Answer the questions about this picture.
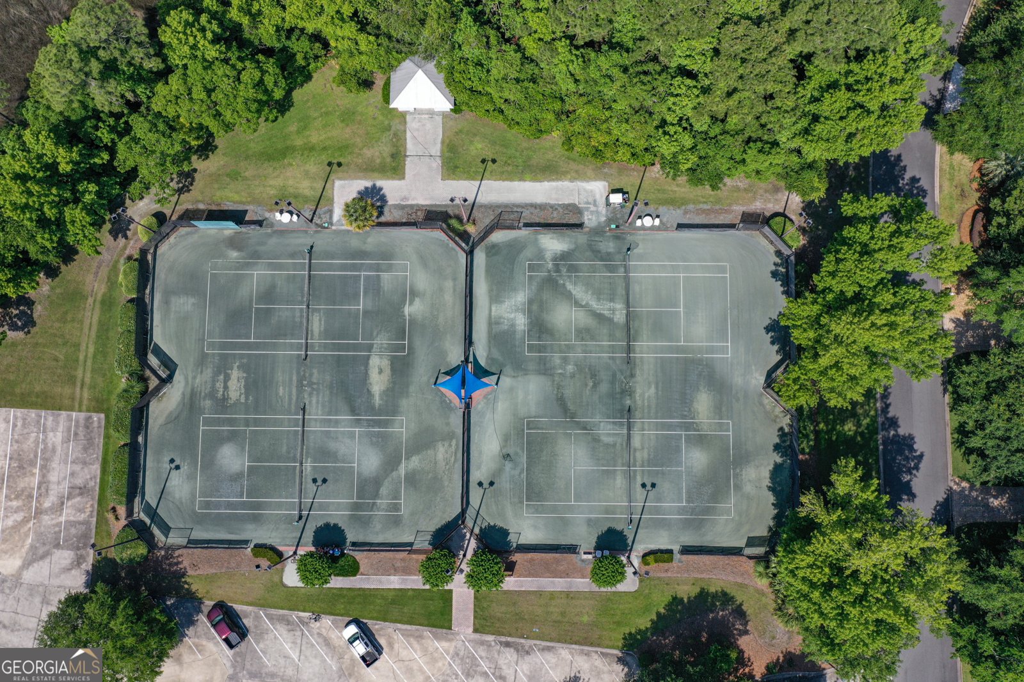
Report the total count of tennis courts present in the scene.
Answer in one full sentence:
I count 4 tennis courts.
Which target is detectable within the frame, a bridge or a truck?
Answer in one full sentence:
There is a truck in the scene.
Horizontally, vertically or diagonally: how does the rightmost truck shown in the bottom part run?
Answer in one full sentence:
The rightmost truck shown in the bottom part is oriented diagonally.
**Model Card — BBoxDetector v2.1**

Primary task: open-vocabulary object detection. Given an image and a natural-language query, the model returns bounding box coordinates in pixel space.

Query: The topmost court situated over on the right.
[466,230,789,389]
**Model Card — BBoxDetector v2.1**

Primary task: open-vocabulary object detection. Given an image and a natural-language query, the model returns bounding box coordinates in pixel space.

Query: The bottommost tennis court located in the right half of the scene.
[463,386,794,556]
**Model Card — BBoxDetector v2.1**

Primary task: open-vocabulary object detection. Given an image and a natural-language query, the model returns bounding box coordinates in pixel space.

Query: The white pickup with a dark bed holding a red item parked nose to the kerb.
[341,619,382,670]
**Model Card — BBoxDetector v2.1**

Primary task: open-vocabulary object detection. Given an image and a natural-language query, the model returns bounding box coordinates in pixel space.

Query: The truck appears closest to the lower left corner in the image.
[207,604,246,653]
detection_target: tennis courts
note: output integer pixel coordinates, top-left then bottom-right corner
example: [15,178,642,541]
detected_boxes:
[463,386,794,556]
[138,382,465,551]
[148,228,468,386]
[466,230,789,389]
